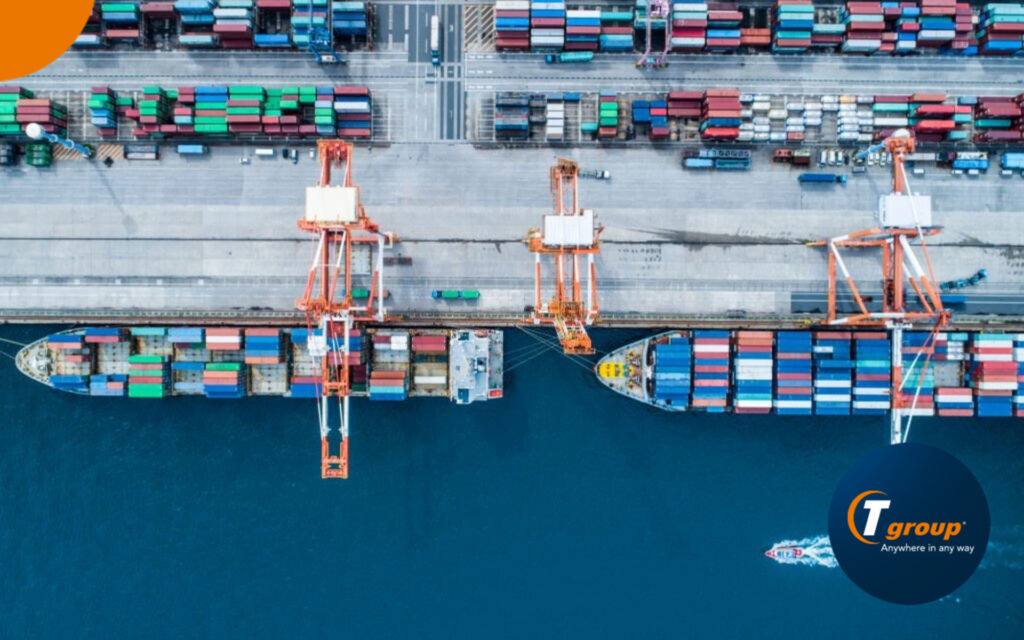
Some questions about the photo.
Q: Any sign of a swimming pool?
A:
No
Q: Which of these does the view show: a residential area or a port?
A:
port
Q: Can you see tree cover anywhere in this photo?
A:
No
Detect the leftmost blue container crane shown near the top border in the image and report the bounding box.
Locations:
[311,0,350,62]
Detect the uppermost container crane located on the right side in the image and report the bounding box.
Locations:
[638,0,672,68]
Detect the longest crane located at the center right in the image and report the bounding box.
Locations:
[805,138,959,484]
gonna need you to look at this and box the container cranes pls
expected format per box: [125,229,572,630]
[638,0,672,68]
[311,0,350,62]
[520,156,608,353]
[805,138,959,484]
[285,138,400,478]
